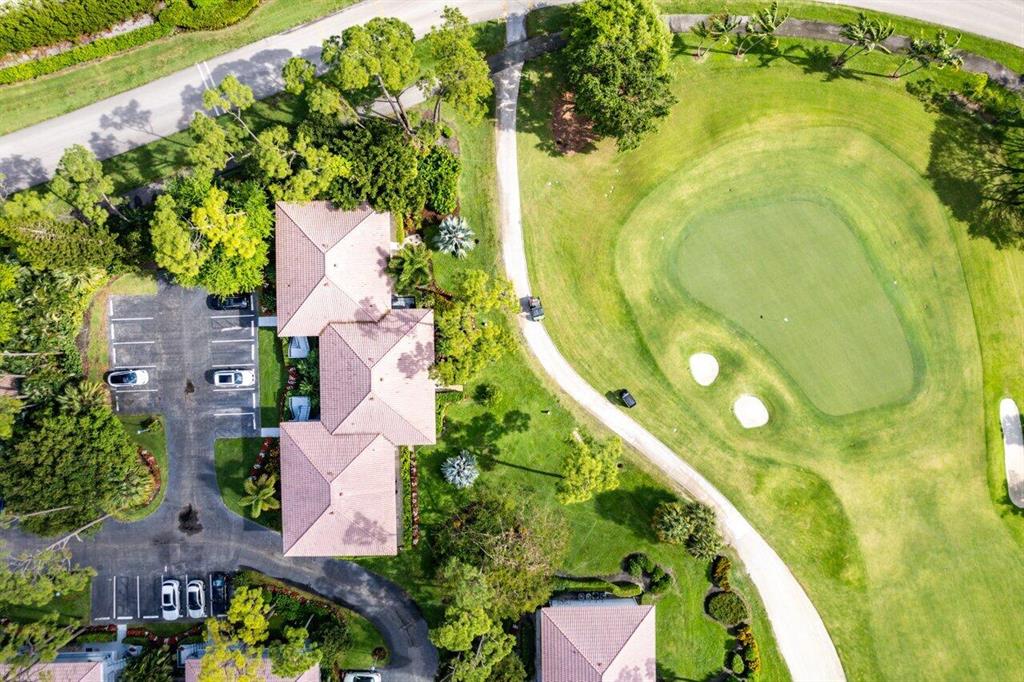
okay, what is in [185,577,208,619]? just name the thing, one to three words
car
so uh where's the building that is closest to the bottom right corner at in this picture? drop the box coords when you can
[535,597,656,682]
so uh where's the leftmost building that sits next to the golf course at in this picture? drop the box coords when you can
[276,200,436,557]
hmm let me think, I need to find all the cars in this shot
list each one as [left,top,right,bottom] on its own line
[160,578,183,620]
[208,572,229,615]
[108,369,151,388]
[344,671,382,682]
[185,577,208,619]
[214,368,257,388]
[208,292,251,312]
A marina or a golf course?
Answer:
golf course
